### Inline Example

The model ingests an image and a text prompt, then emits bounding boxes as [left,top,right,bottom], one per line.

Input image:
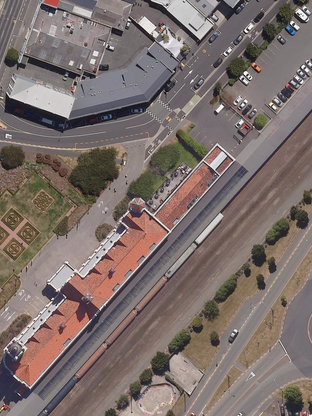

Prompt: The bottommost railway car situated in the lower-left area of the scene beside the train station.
[45,376,76,412]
